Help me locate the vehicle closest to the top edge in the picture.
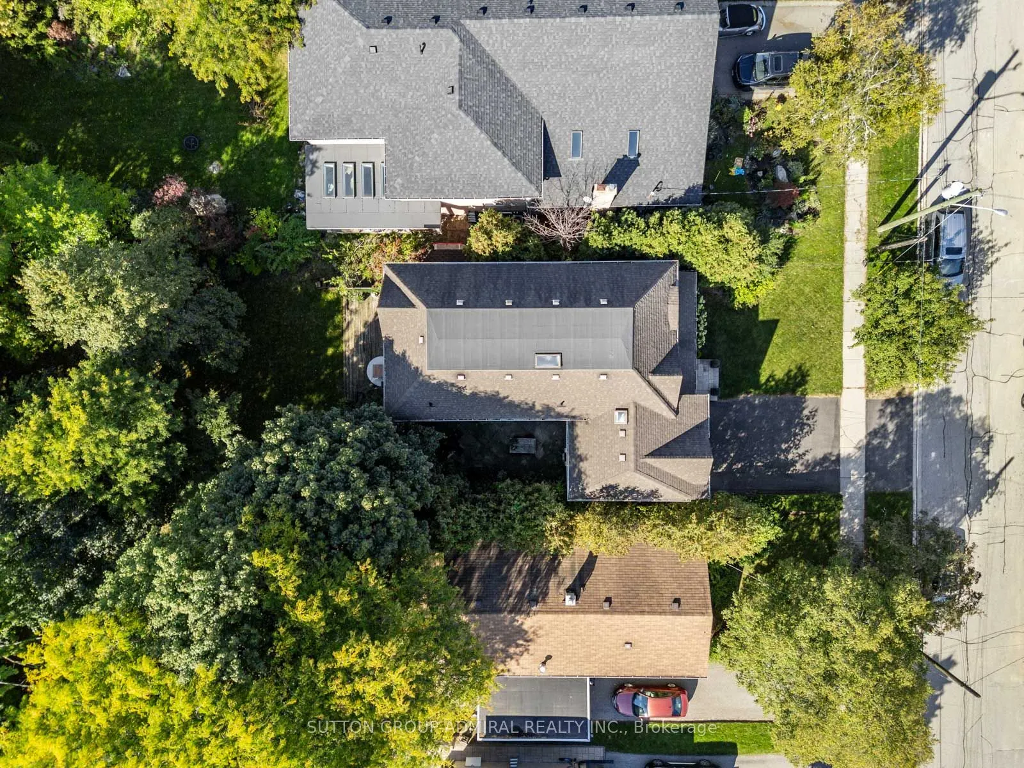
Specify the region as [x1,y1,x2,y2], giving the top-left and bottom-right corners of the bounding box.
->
[718,5,763,41]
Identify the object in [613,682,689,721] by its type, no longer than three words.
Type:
car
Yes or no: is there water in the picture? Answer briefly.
No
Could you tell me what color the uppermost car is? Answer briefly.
black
